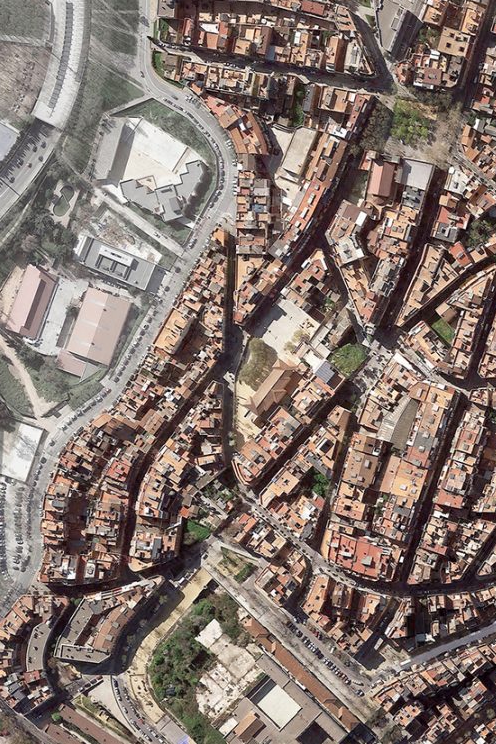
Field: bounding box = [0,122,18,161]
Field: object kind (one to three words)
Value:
building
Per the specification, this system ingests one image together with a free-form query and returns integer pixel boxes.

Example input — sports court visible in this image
[1,423,44,481]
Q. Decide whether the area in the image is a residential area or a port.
residential area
